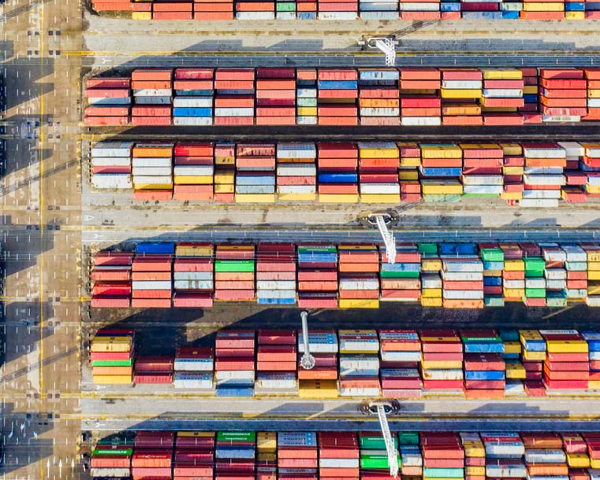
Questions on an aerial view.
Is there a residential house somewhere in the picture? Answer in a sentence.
No, there's no residential house here.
